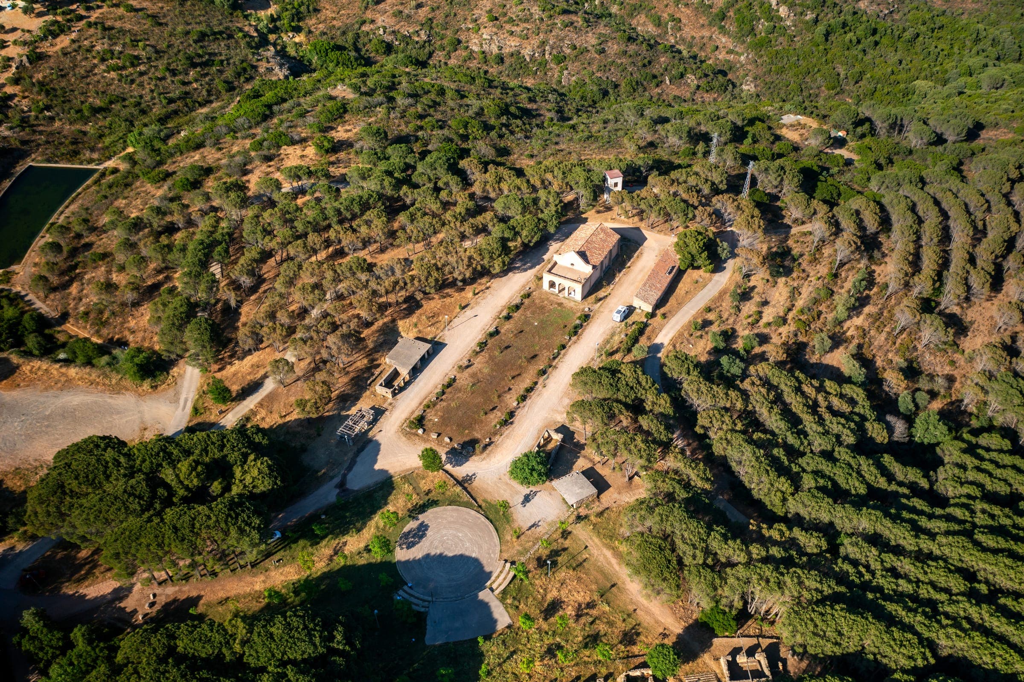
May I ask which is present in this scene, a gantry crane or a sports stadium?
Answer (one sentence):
There is a sports stadium in the scene.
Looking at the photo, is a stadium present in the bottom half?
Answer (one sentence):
Yes, I can see a stadium in the bottom half.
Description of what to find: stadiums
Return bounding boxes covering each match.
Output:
[391,505,513,645]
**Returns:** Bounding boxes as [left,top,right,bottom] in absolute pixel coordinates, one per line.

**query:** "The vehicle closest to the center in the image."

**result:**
[612,302,630,322]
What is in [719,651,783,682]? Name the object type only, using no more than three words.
house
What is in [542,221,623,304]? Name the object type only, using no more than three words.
building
